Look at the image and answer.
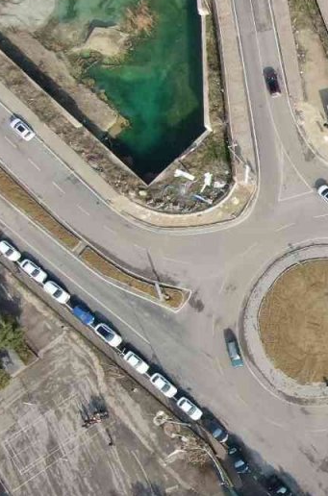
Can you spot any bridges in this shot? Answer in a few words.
No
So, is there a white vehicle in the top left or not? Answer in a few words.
Yes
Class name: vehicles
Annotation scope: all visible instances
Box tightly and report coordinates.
[0,239,23,263]
[266,478,292,496]
[263,68,279,95]
[70,304,96,327]
[202,418,229,444]
[41,280,71,305]
[149,371,178,399]
[226,341,243,366]
[225,447,251,474]
[175,395,203,422]
[95,323,121,347]
[18,258,48,283]
[123,349,150,375]
[11,120,36,141]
